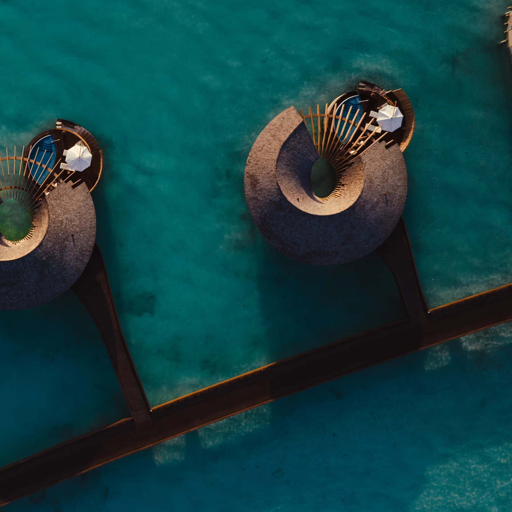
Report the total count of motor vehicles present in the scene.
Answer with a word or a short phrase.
0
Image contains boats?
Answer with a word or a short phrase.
No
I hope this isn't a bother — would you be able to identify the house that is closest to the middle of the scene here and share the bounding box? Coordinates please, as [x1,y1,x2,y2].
[243,106,407,265]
